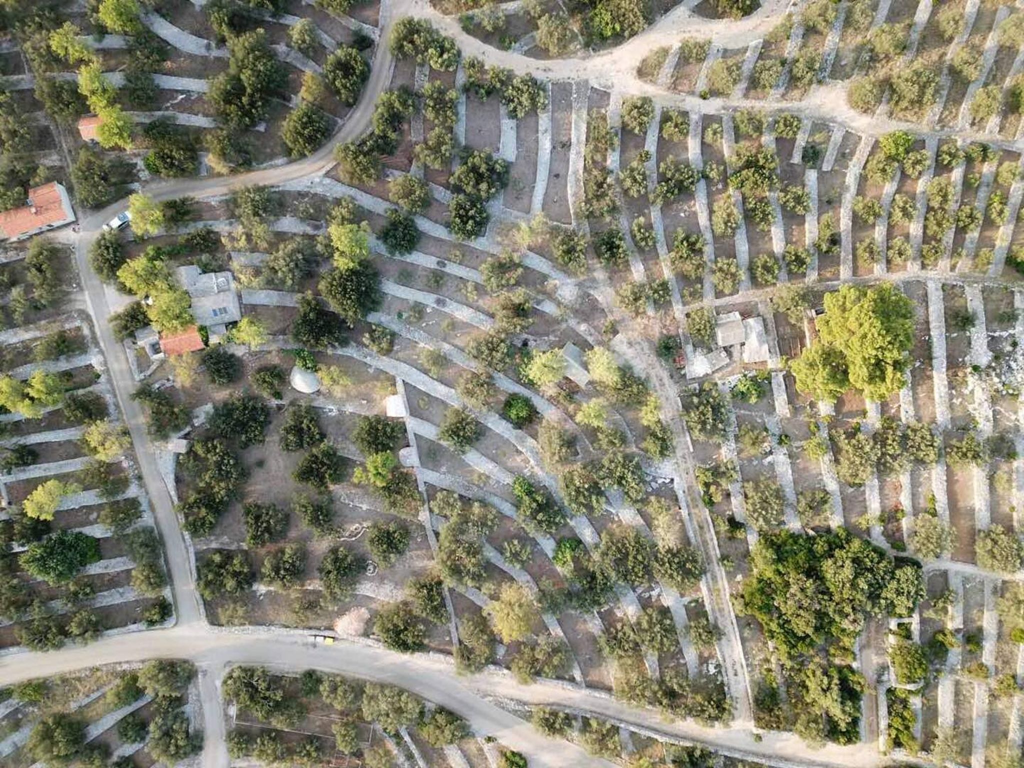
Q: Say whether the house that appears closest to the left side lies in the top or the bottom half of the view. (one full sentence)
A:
The house that appears closest to the left side sits in the top half of the picture.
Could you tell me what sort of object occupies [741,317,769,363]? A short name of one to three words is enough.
shed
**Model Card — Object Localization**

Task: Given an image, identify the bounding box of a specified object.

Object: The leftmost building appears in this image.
[0,181,74,244]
